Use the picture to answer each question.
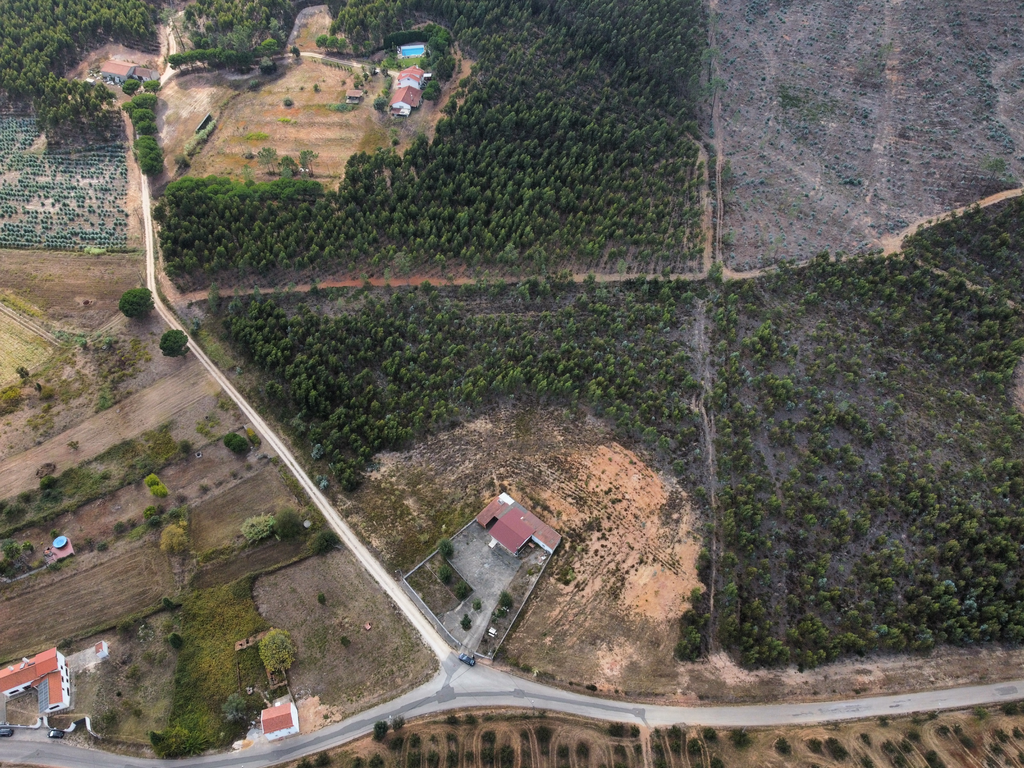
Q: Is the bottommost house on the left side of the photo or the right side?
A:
left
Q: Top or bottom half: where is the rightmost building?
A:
bottom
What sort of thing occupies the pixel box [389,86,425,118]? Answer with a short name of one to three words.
house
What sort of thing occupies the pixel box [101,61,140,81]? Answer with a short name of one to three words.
barn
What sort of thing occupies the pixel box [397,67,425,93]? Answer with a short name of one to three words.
building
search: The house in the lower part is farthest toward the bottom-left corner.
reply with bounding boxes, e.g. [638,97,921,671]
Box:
[0,647,69,716]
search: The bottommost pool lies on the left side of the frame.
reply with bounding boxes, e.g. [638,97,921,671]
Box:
[52,535,69,550]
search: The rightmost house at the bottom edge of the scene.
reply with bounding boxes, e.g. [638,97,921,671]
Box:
[261,702,298,738]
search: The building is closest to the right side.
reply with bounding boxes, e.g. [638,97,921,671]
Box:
[476,493,561,557]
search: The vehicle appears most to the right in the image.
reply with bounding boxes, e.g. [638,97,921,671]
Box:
[457,653,476,668]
